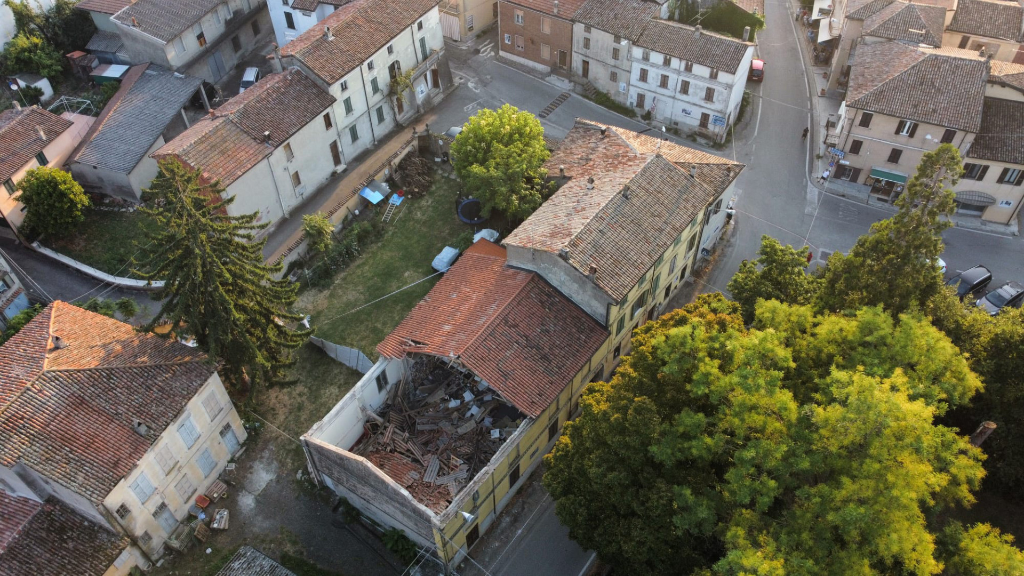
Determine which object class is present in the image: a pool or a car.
car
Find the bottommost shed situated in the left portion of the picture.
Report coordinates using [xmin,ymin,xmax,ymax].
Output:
[222,544,294,576]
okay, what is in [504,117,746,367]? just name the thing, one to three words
house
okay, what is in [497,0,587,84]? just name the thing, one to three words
house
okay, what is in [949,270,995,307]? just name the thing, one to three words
car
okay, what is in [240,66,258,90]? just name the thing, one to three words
vehicle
